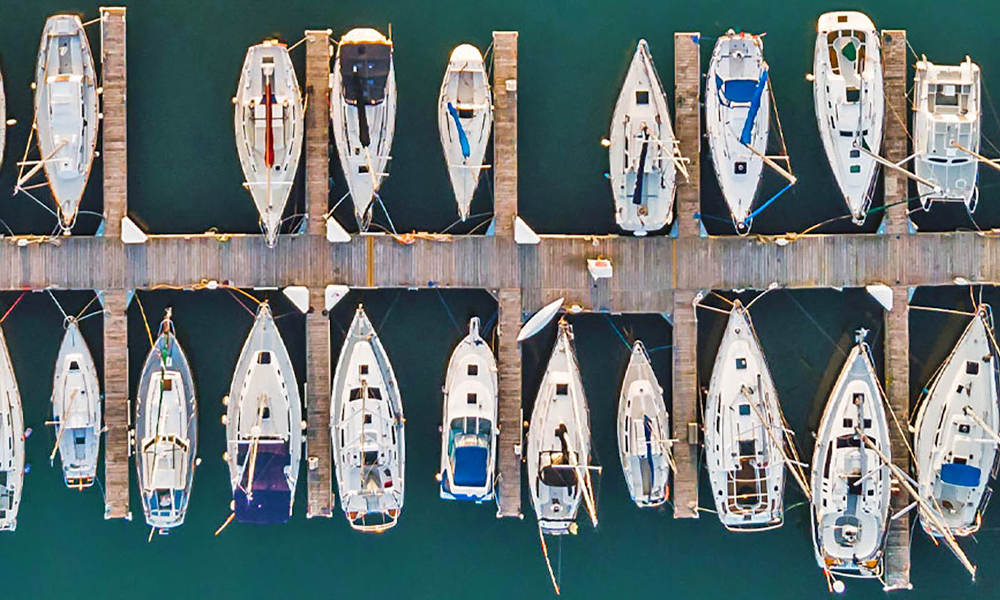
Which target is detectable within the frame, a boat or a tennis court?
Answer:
boat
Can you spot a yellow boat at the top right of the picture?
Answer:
No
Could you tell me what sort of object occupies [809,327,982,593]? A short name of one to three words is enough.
boat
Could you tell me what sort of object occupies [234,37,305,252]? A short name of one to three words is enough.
boat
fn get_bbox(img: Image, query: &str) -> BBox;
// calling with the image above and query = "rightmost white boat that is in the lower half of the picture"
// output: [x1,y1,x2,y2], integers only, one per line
[914,304,1000,545]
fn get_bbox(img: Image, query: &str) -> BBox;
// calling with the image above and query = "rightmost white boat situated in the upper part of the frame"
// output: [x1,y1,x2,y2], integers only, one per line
[911,55,1000,213]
